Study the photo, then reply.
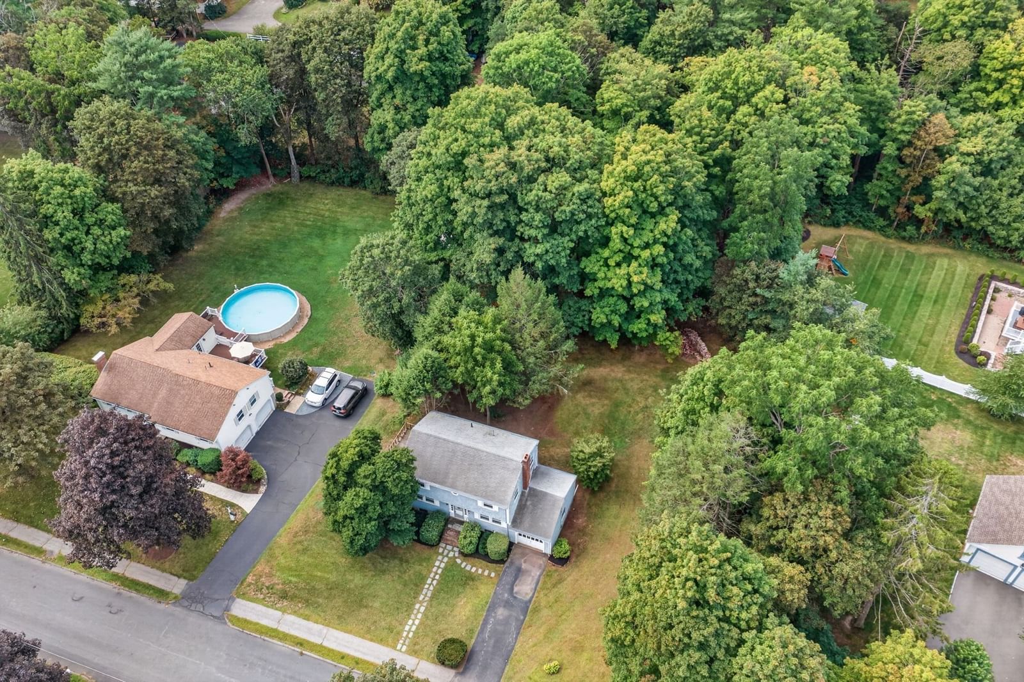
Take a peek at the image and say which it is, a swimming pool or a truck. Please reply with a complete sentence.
The image shows a swimming pool.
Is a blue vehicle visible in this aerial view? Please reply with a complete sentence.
No, no blue vehicle is visible in the scene.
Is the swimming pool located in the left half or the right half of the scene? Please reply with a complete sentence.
It is on the left.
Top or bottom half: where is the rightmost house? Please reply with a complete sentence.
Seen from above, the rightmost house lies in the bottom half of the view.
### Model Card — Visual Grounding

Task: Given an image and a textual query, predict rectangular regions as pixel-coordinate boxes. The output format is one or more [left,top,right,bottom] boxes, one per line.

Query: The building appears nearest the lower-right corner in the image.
[959,475,1024,591]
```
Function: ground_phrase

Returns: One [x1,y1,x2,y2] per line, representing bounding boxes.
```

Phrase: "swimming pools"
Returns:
[220,282,301,342]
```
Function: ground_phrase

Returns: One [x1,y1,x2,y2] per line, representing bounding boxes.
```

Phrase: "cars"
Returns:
[306,371,340,407]
[334,381,368,416]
